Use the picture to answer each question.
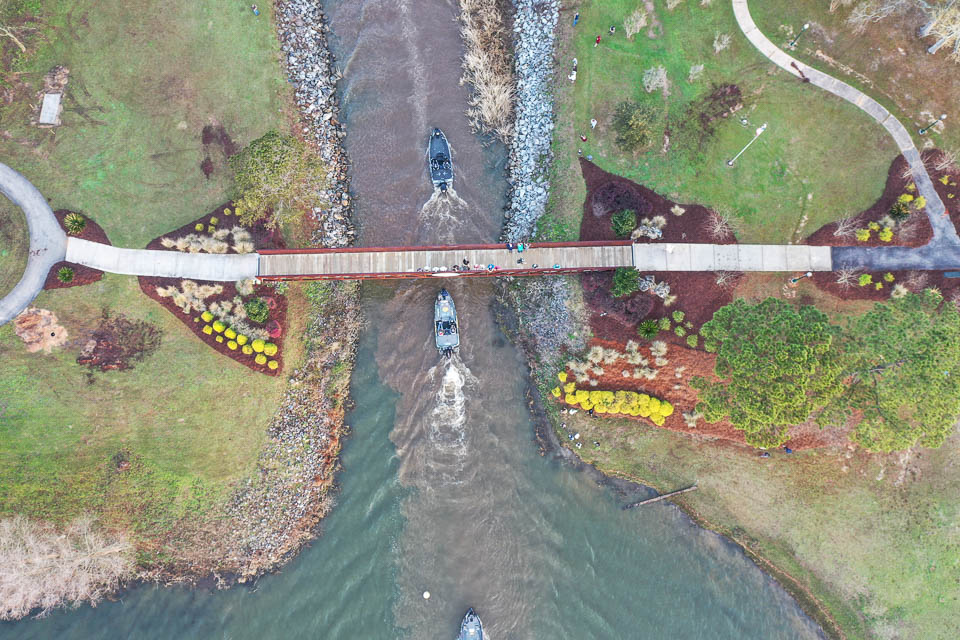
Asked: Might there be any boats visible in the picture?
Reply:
Yes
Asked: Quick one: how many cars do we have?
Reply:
zero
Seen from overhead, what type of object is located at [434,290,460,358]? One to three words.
boat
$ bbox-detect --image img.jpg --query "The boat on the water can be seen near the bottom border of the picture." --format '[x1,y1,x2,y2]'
[460,607,487,640]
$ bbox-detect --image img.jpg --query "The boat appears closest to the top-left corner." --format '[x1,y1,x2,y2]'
[429,127,452,190]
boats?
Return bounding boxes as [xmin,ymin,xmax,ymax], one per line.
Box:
[460,607,487,640]
[429,127,452,190]
[434,290,460,358]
